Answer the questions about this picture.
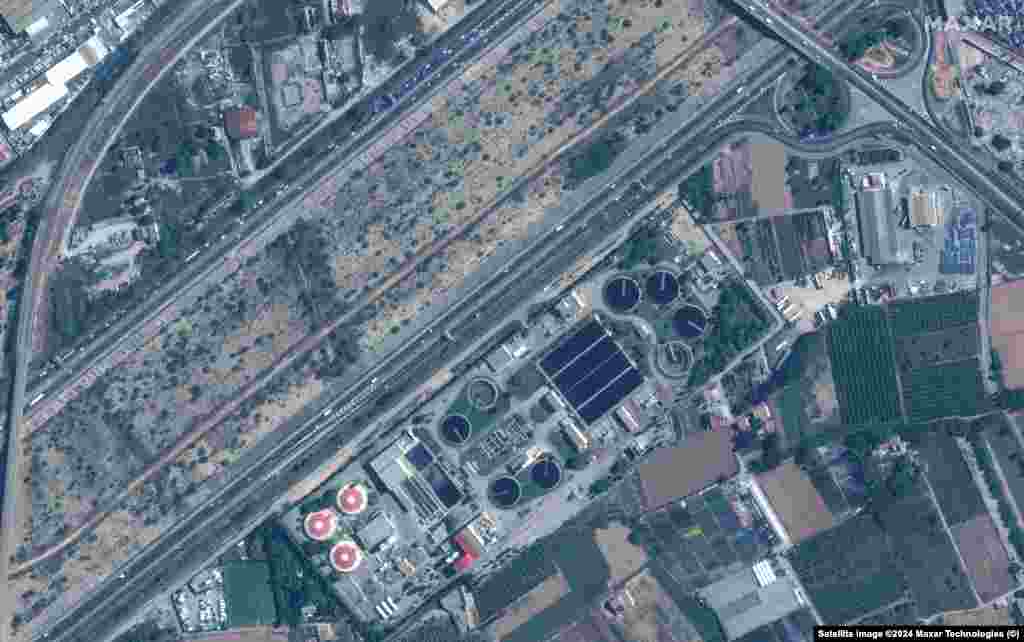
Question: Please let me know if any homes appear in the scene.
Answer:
Yes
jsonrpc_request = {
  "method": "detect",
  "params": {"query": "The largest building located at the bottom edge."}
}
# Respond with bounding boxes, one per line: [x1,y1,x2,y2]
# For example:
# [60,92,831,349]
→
[703,559,802,641]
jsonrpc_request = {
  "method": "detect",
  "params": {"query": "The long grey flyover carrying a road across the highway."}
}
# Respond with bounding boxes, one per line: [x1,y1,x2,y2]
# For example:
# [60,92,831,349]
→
[731,0,1024,227]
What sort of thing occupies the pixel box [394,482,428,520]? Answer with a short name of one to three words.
building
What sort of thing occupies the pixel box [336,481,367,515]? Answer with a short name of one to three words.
storage tank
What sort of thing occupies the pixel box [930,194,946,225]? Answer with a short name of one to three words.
building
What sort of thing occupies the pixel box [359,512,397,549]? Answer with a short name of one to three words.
house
